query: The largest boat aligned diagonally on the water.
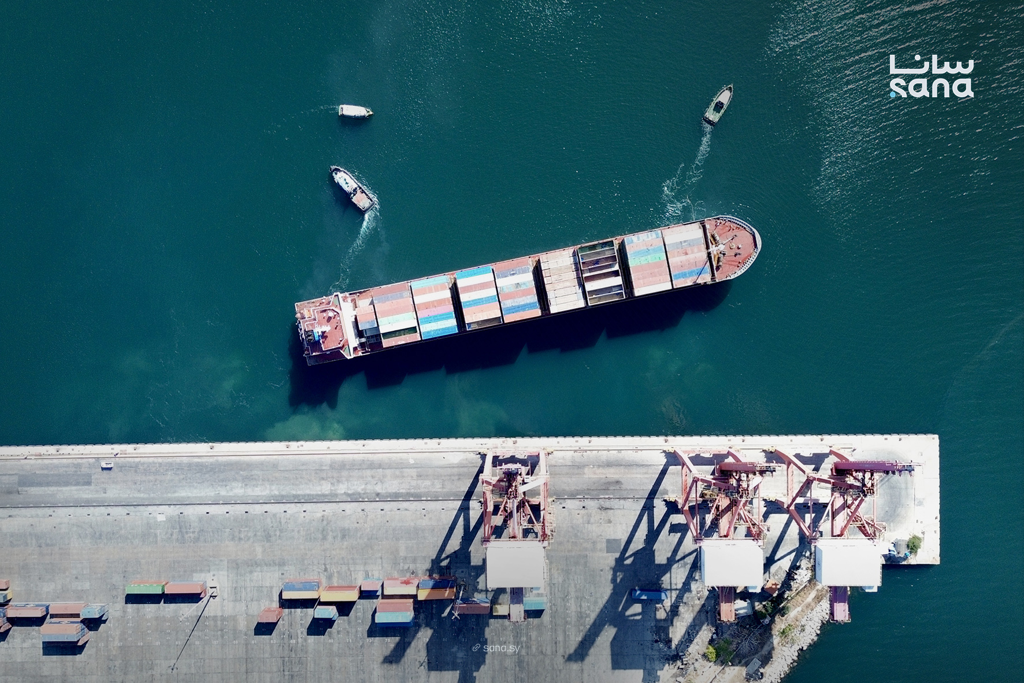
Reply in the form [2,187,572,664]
[329,166,376,215]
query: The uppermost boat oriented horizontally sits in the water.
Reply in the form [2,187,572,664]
[339,104,373,119]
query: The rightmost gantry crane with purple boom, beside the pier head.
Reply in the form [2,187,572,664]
[763,448,931,622]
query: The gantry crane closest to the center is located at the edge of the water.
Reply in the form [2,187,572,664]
[476,448,557,622]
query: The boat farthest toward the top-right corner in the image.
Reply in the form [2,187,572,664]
[704,84,733,128]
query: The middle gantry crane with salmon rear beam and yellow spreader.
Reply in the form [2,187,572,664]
[662,448,790,622]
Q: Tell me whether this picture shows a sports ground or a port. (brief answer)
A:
port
